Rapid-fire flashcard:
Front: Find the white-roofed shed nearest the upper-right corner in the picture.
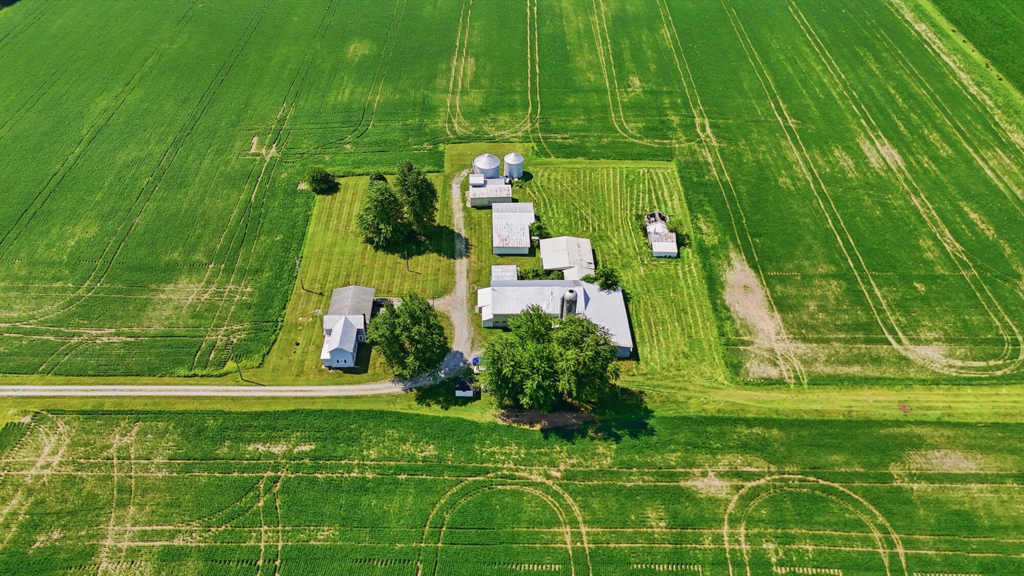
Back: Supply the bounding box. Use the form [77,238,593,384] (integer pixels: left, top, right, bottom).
[643,212,676,257]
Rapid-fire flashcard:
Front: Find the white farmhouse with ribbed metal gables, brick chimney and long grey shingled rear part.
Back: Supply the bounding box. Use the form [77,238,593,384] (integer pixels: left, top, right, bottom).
[320,281,376,373]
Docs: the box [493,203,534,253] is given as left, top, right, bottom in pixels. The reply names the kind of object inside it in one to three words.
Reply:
shed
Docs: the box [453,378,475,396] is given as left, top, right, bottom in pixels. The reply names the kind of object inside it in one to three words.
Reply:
shed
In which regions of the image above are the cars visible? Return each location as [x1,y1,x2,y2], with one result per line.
[473,358,485,368]
[378,298,398,308]
[473,366,484,376]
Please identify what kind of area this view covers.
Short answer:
farmland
